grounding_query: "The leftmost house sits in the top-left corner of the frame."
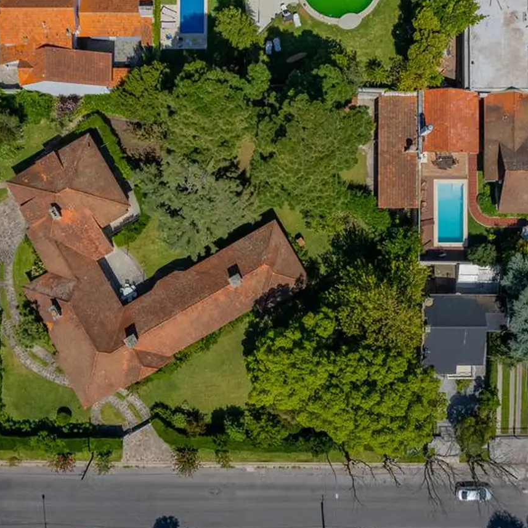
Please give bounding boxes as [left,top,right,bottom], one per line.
[0,0,153,91]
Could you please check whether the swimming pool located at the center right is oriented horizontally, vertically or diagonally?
vertically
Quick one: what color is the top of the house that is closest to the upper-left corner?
orange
